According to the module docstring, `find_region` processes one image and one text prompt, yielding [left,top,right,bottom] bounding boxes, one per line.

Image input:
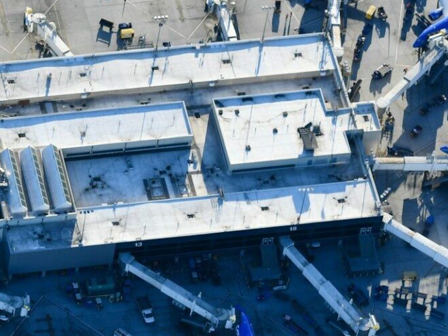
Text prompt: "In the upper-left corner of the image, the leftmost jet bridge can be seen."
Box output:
[18,6,82,57]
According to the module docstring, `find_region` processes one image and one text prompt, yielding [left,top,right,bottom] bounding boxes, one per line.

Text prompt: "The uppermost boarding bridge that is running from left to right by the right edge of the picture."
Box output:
[365,154,448,193]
